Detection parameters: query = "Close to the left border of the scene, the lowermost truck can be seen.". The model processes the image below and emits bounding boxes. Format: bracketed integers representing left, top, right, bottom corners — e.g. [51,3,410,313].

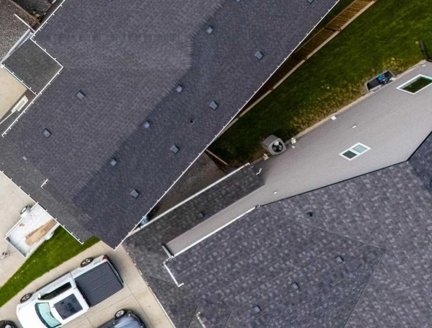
[17,254,125,328]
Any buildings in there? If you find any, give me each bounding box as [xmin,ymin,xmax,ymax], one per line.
[0,0,341,251]
[131,73,432,328]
